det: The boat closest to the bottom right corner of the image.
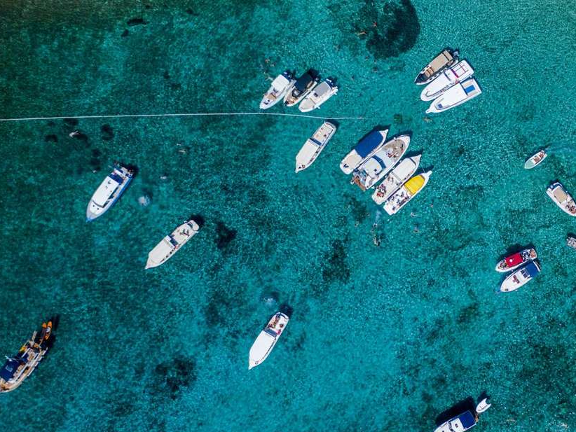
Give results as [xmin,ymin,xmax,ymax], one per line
[476,398,491,414]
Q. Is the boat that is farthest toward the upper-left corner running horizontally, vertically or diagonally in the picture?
diagonally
